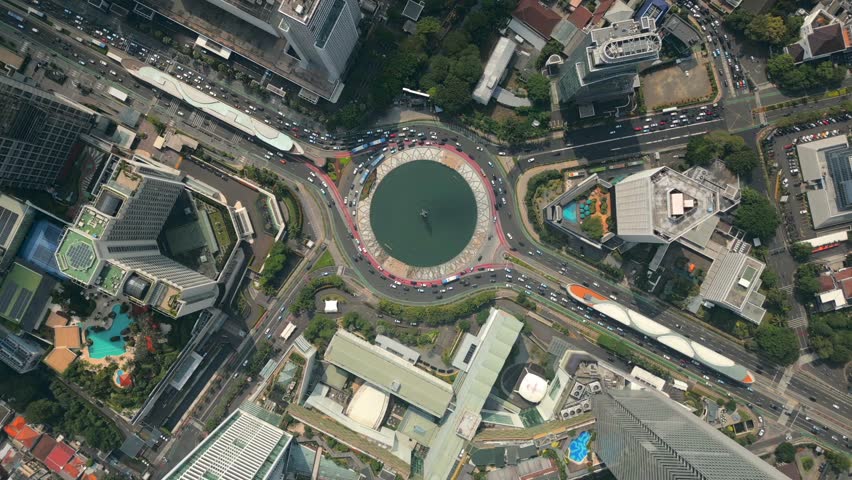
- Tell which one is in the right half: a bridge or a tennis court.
bridge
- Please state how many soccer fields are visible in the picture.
0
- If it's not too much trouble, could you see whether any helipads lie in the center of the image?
No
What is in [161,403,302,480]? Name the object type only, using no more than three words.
building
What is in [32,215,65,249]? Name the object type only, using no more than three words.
tennis court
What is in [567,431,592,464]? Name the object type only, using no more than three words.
swimming pool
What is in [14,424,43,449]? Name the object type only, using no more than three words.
house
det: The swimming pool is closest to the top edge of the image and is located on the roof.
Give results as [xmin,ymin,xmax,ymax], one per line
[562,200,577,223]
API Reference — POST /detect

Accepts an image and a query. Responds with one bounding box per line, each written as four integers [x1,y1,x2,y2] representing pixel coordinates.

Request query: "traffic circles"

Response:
[355,146,493,283]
